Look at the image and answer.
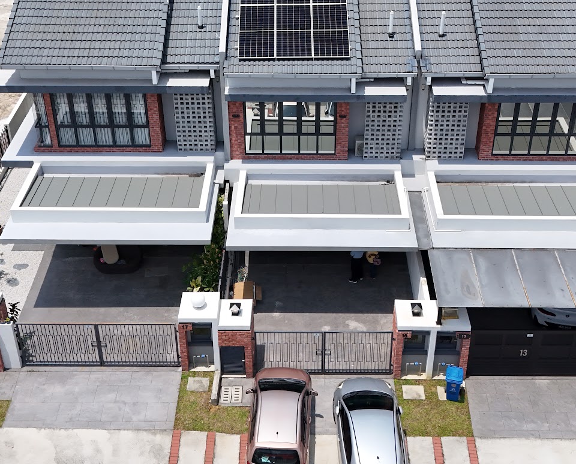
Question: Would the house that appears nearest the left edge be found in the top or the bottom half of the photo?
top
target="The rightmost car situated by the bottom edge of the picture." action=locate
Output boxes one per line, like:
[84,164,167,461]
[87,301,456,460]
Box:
[332,375,406,464]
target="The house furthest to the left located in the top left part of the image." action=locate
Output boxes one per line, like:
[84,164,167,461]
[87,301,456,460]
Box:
[0,0,228,245]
